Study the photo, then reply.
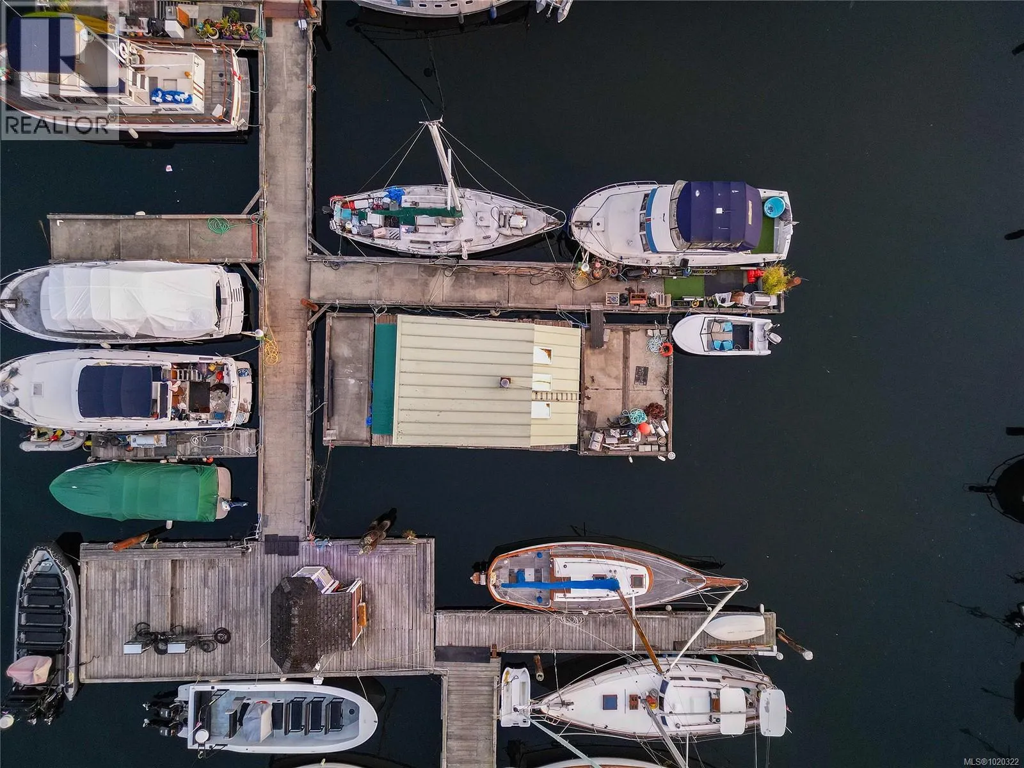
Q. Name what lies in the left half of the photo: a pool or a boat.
boat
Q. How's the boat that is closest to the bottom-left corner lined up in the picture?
from top to bottom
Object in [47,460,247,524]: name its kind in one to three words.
boat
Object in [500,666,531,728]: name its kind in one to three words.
boat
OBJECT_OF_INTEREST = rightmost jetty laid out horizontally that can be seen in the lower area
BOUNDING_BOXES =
[436,607,776,654]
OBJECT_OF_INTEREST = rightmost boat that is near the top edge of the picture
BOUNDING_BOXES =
[536,0,576,24]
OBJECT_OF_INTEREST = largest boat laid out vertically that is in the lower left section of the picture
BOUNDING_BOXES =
[2,541,79,721]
